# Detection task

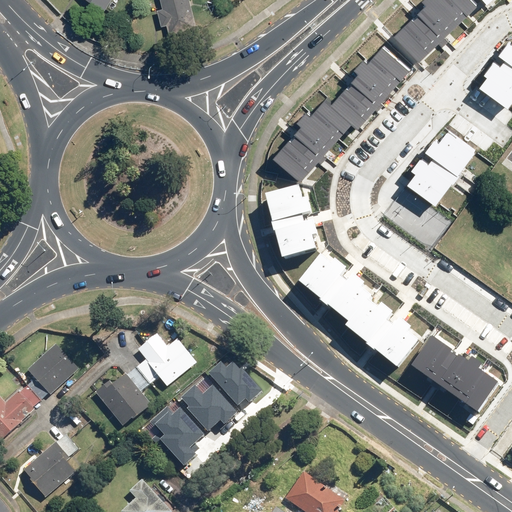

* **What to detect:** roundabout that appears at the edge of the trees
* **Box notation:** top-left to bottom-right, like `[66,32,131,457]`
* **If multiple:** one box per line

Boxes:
[13,79,228,306]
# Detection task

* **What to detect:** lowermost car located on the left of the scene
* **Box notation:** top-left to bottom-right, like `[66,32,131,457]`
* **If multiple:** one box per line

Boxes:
[159,479,174,494]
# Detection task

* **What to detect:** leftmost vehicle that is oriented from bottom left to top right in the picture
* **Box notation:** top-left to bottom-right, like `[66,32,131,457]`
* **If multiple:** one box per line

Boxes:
[1,260,18,278]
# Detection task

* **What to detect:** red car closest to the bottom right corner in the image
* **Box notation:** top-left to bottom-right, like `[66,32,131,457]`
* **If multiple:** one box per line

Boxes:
[476,425,490,441]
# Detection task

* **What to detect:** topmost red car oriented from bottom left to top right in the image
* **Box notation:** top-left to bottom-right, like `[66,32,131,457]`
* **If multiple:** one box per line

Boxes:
[241,98,256,114]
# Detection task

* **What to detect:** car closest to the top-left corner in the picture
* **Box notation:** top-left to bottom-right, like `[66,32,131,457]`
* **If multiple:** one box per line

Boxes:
[52,51,66,64]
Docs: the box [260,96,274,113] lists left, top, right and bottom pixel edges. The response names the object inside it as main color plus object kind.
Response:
white car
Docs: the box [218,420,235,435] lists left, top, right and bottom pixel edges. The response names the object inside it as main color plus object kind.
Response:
gray car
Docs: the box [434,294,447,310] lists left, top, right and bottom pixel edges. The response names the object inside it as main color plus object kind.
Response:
white vehicle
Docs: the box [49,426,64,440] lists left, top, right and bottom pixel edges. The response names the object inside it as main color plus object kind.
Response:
white vehicle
